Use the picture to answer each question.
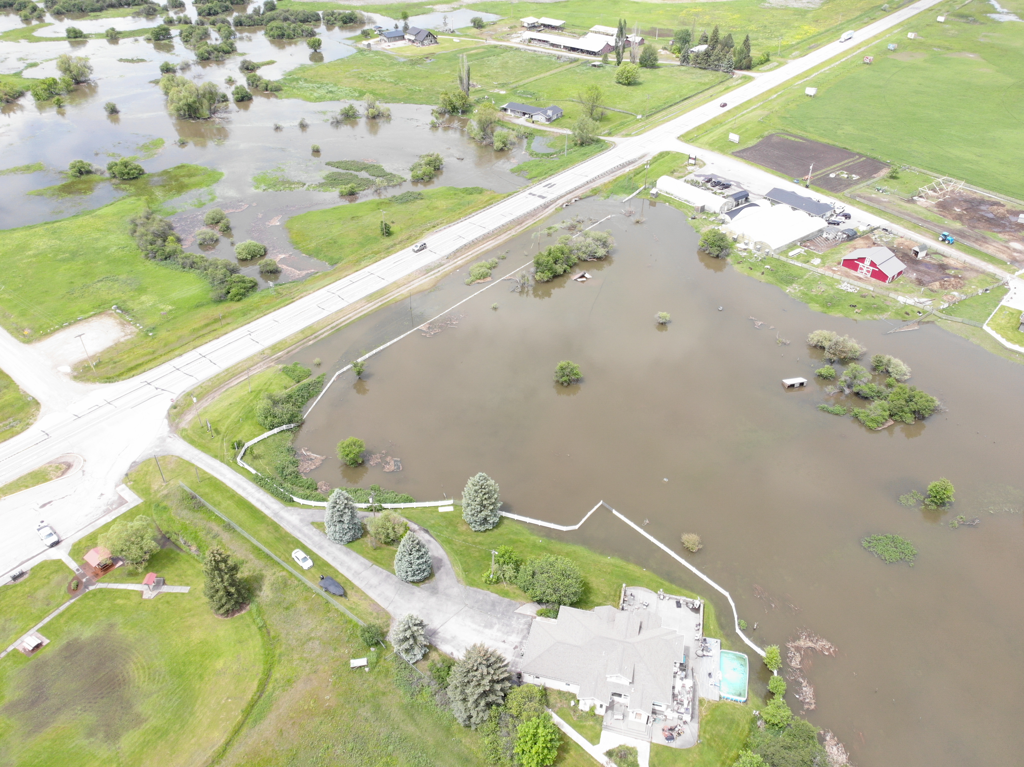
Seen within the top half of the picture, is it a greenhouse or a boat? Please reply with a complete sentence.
It is a greenhouse that can be seen within the top half of the picture.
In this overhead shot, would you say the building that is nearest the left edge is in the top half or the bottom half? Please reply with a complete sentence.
You can find the building that is nearest the left edge in the bottom half.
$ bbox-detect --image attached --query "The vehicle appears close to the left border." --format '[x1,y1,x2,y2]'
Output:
[30,519,57,545]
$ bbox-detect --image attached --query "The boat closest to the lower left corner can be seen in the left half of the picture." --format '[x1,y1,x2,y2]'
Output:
[317,569,348,596]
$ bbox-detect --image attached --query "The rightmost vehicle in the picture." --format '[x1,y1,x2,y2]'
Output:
[940,231,959,246]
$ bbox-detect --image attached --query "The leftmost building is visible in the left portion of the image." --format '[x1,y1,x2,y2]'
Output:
[69,532,115,571]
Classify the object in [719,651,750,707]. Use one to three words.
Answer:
swimming pool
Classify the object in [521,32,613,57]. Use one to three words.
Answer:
barn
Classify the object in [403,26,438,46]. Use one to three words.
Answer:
house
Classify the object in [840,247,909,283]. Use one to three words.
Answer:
barn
